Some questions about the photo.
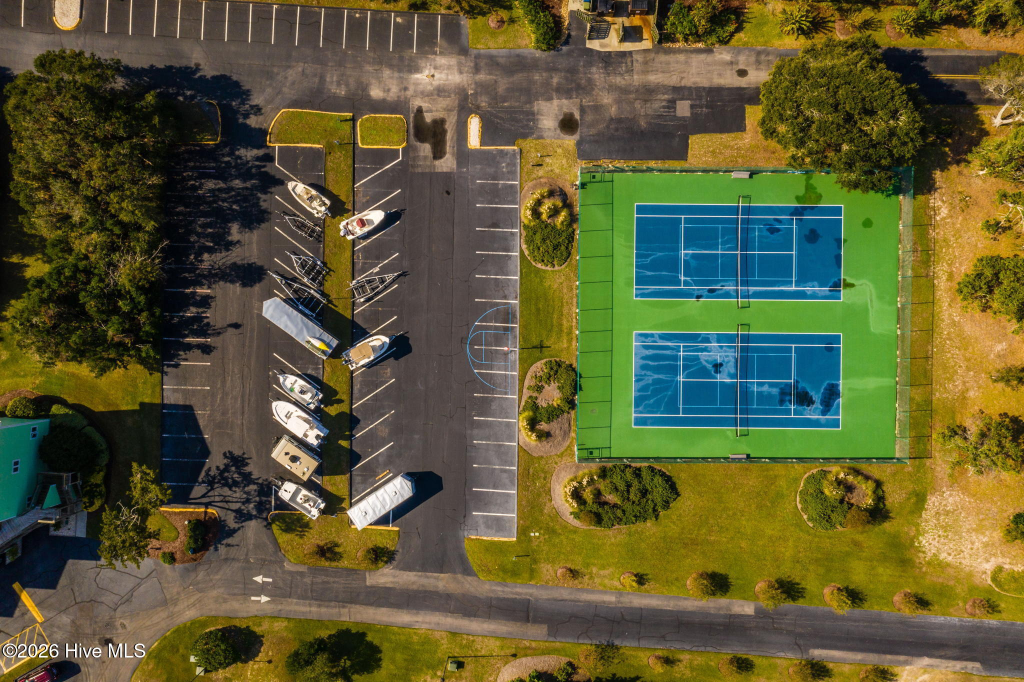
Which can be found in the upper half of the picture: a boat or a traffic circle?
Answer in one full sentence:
Visible in the upper half of the picture is a boat.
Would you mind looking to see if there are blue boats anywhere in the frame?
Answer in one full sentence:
No, no blue boat is visible in the scene.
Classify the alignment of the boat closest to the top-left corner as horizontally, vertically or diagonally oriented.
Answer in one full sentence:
Seen from above, the boat closest to the top-left corner lies diagonally.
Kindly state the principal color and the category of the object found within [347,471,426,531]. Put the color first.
white trailer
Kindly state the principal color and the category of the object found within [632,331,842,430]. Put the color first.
blue tennis court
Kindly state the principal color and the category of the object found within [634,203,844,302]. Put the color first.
blue tennis court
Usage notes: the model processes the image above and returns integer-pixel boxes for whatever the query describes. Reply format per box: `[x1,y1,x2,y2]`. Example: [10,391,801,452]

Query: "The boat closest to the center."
[342,336,391,370]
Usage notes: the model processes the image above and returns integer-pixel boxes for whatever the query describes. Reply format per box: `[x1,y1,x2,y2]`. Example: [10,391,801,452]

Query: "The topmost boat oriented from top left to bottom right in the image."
[287,180,332,217]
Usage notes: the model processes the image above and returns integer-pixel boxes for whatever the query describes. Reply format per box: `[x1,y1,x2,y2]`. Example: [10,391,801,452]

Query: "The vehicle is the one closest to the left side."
[20,661,64,682]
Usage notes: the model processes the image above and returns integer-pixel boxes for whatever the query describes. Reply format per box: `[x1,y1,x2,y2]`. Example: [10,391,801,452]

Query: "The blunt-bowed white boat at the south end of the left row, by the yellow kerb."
[279,481,329,518]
